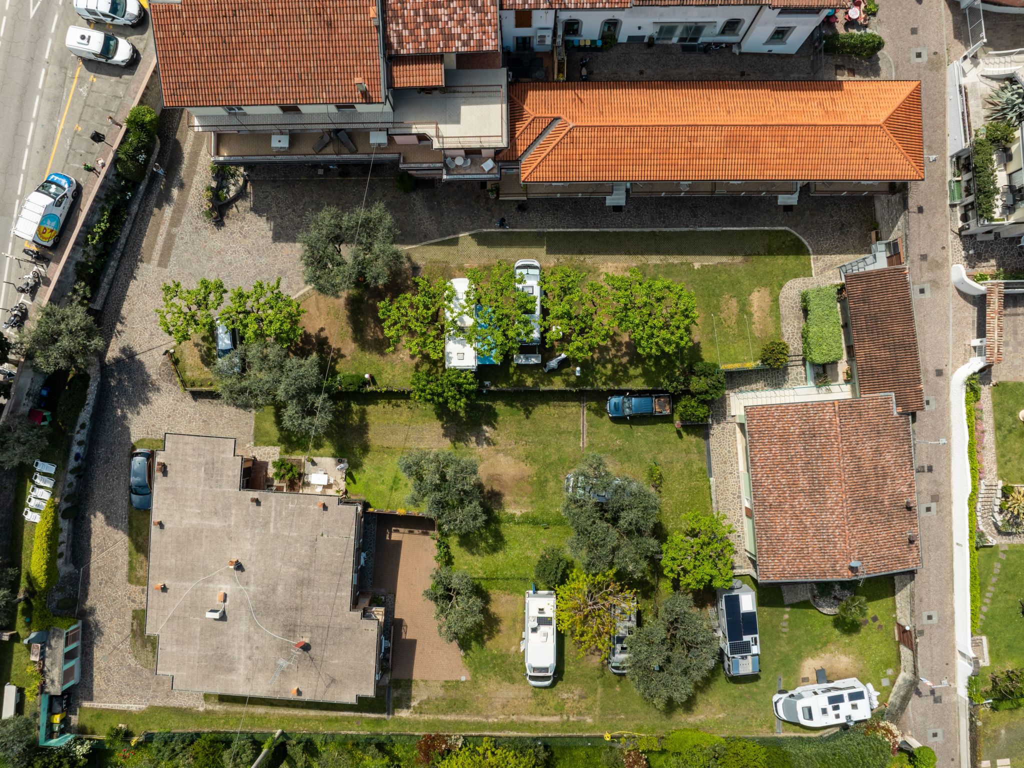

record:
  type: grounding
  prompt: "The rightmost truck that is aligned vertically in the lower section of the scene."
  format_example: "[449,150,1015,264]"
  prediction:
[714,580,761,679]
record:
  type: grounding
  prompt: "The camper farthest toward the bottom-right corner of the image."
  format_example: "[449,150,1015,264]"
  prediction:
[768,677,881,731]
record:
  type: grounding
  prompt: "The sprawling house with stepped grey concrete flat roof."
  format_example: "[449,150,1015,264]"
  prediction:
[144,432,382,706]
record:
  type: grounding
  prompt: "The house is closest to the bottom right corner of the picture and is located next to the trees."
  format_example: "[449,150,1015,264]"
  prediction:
[730,396,923,585]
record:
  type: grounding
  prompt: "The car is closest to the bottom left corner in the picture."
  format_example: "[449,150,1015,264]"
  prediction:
[125,449,153,508]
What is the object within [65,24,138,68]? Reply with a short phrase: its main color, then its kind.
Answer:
white van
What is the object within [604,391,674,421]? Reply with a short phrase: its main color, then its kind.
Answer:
blue truck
